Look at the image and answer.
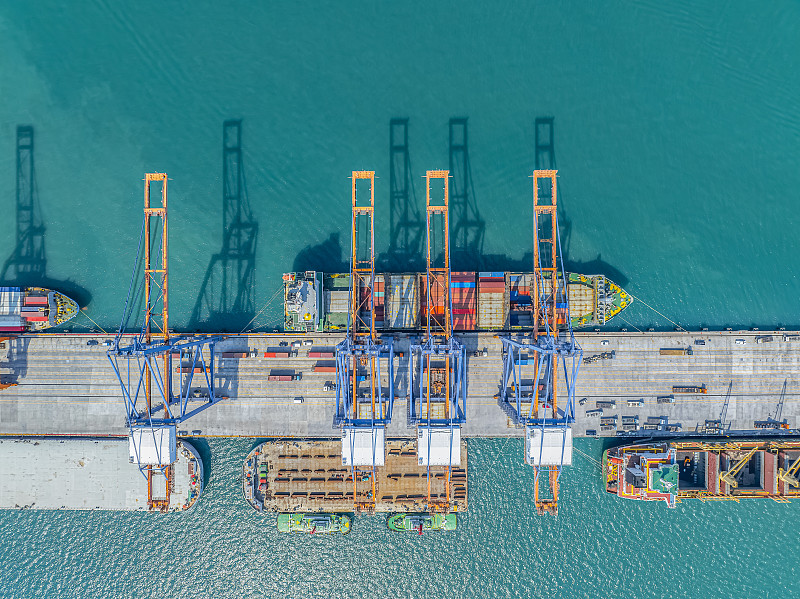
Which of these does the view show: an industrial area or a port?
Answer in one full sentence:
This looks like a port.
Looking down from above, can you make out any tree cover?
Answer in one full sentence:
No, the picture contains no tree cover.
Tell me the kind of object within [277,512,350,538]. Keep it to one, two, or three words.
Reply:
boat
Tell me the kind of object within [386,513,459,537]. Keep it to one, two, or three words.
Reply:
boat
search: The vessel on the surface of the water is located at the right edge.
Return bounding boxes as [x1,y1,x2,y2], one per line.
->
[597,437,800,509]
